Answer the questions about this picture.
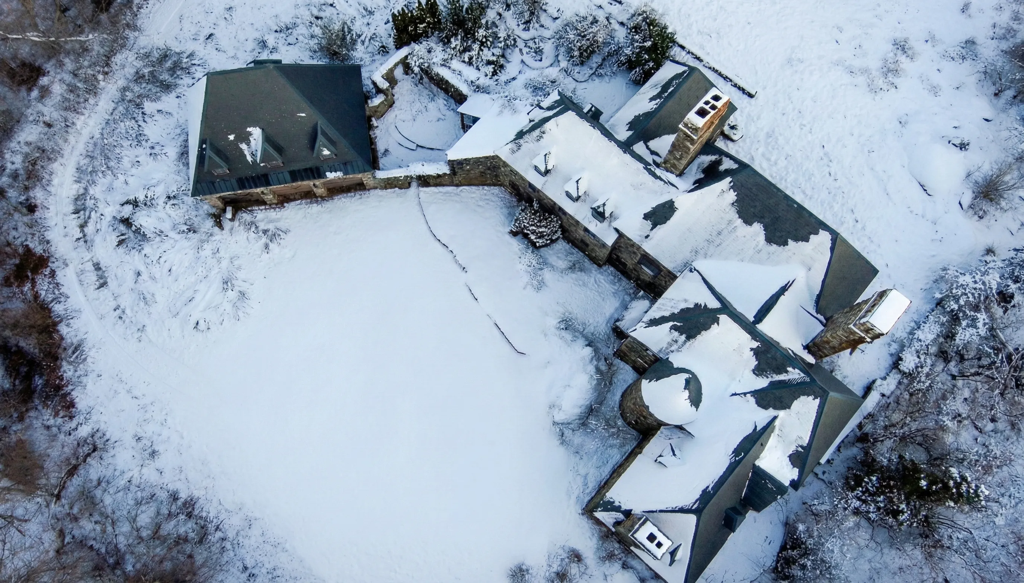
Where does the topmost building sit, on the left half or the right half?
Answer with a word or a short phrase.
left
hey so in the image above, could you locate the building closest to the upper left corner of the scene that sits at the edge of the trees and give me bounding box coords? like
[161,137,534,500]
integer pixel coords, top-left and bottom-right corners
[188,51,377,211]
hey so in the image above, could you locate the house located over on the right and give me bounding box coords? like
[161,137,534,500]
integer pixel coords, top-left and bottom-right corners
[447,59,912,583]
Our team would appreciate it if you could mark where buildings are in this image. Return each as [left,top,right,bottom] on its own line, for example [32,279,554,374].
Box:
[188,51,377,211]
[447,59,912,583]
